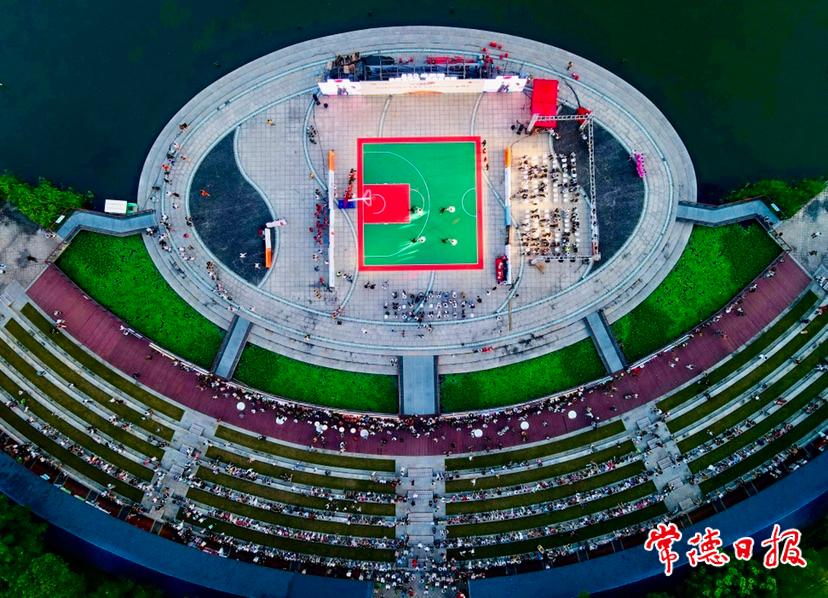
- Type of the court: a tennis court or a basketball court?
basketball court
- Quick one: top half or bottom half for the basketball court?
top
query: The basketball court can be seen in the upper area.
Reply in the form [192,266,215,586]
[357,137,483,271]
